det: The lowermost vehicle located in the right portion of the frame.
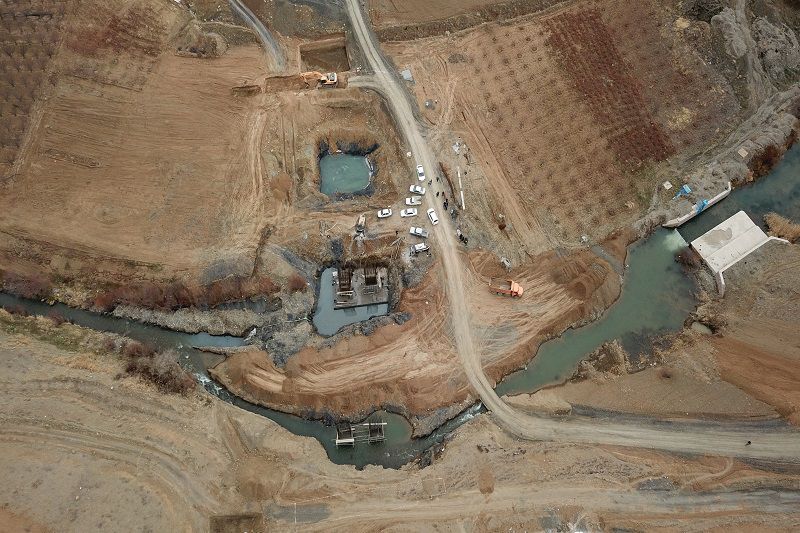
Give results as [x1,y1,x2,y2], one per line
[491,277,526,297]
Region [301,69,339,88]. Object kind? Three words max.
work vehicle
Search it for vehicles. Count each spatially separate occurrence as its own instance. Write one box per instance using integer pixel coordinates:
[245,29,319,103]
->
[411,244,428,254]
[409,185,424,195]
[410,227,428,238]
[491,277,526,297]
[417,166,425,179]
[405,196,423,205]
[428,210,438,223]
[401,208,416,216]
[377,209,392,217]
[301,69,339,88]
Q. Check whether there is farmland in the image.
Yes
